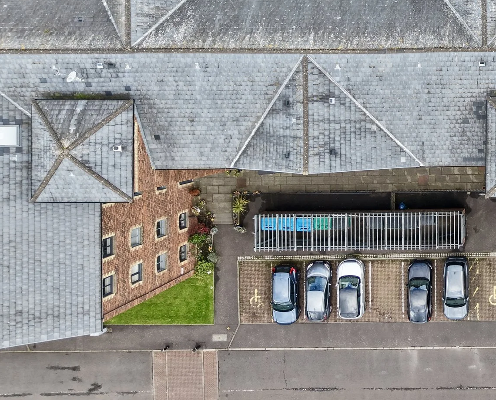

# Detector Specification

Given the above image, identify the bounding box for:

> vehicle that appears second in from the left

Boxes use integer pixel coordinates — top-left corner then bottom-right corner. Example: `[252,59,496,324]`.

[305,258,335,319]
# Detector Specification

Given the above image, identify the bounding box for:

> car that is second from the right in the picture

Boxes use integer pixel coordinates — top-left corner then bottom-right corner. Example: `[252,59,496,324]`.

[406,256,435,320]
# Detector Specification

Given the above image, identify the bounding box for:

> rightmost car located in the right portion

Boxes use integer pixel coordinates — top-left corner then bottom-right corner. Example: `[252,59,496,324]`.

[441,254,469,315]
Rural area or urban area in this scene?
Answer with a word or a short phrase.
urban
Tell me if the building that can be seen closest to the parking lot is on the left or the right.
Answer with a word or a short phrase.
right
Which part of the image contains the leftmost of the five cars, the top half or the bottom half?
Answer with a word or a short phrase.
bottom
